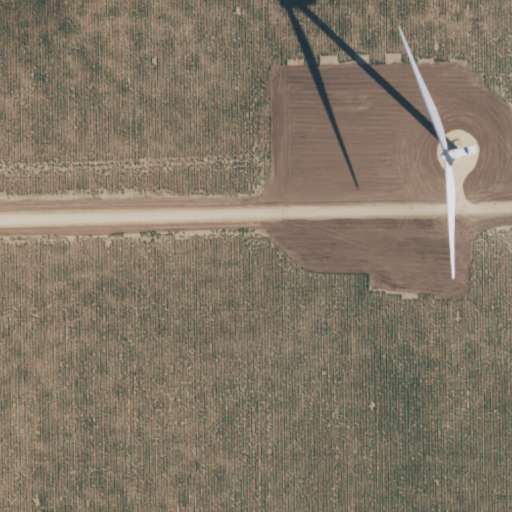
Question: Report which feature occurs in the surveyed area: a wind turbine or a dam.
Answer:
wind turbine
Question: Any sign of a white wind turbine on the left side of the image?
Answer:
No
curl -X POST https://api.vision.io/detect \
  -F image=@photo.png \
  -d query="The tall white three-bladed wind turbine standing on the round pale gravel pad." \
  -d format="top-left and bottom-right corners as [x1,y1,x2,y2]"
[400,27,477,280]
